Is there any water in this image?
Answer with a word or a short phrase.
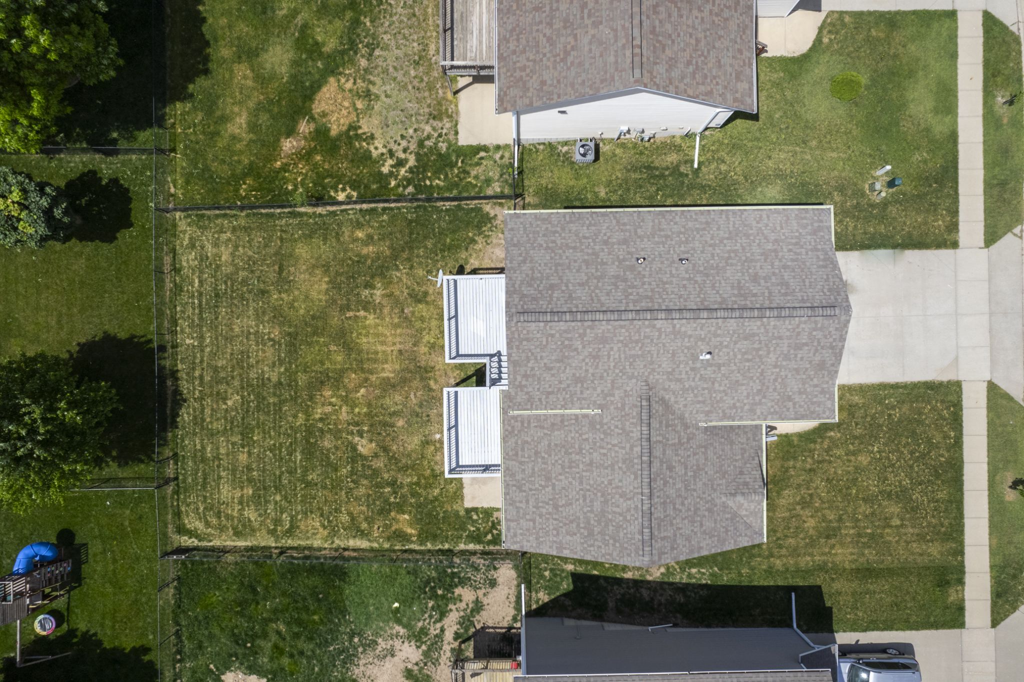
No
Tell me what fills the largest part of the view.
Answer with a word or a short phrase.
grass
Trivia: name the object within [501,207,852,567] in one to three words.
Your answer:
house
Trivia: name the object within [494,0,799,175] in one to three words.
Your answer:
house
